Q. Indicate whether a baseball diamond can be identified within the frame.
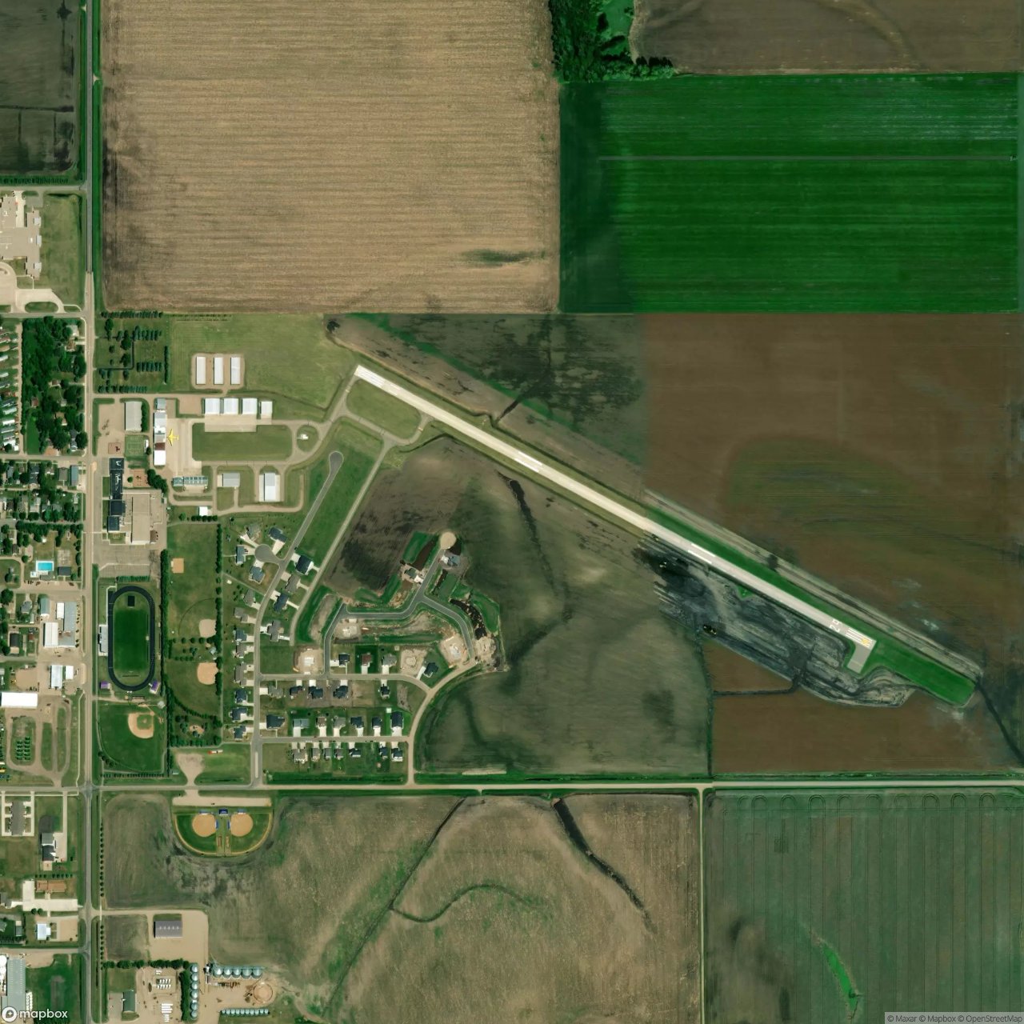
Yes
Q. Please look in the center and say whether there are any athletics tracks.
No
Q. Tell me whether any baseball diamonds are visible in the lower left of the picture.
Yes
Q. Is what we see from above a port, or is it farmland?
farmland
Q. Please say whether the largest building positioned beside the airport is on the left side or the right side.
left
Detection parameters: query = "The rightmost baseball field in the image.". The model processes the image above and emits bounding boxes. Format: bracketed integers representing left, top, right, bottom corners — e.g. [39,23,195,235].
[230,810,272,855]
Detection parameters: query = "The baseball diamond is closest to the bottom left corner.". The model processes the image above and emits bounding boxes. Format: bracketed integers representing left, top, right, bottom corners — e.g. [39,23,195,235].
[175,814,217,855]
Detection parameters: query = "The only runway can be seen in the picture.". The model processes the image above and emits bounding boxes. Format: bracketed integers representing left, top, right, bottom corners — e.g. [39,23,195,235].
[355,365,876,650]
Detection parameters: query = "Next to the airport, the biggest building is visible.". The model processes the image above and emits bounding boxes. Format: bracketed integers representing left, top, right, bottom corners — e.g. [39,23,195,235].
[108,458,162,543]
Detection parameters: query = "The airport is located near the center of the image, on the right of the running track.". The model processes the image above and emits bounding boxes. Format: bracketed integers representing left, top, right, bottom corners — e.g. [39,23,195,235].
[166,365,876,673]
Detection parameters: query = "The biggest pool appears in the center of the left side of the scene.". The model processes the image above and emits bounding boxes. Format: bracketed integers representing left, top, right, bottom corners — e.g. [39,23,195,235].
[36,560,54,575]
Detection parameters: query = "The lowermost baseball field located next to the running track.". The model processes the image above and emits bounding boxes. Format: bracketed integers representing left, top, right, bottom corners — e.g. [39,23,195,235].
[99,704,166,772]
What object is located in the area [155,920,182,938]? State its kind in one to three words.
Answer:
shed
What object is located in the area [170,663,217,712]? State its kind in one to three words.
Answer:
baseball field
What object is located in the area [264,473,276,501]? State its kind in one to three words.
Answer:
hangar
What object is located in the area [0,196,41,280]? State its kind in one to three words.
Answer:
building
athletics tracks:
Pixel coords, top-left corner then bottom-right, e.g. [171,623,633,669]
[108,586,155,691]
